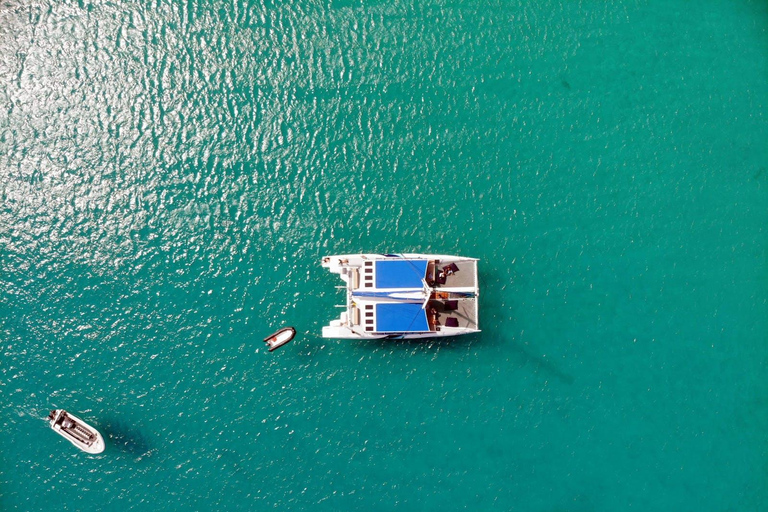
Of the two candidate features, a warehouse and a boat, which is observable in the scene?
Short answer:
boat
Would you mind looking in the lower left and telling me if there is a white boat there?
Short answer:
Yes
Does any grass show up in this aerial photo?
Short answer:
No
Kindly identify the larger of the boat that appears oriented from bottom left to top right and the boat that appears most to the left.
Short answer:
the boat that appears most to the left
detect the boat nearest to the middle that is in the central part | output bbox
[322,253,485,340]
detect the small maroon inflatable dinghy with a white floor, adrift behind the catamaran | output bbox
[263,325,296,352]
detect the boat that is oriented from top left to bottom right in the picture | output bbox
[45,407,104,455]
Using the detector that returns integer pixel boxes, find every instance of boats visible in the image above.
[322,253,485,340]
[45,407,104,455]
[263,325,296,352]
